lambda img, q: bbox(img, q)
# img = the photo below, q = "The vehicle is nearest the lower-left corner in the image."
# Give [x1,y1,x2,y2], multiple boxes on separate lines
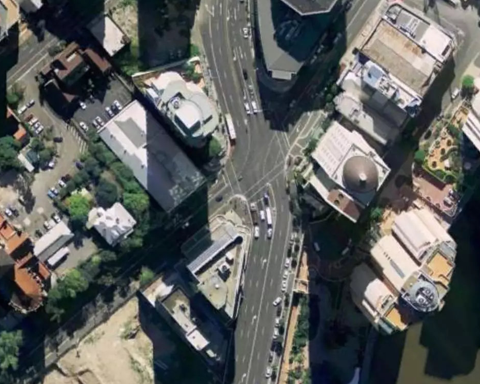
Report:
[48,249,69,265]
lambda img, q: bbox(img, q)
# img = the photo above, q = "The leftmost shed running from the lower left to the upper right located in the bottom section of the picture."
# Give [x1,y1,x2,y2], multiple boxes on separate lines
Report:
[34,221,75,262]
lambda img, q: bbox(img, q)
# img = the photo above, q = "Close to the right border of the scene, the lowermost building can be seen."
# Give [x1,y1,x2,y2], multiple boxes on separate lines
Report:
[356,207,456,334]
